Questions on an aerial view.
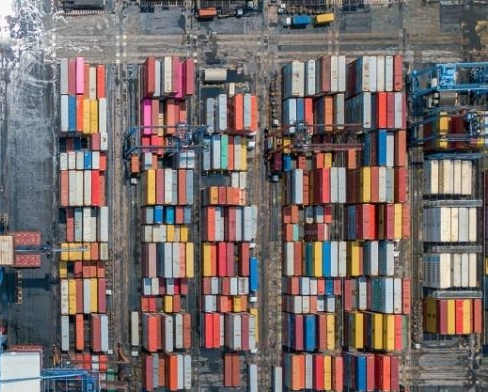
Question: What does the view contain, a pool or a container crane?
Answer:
container crane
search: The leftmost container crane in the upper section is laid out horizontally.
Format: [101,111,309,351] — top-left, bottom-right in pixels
[127,123,214,159]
